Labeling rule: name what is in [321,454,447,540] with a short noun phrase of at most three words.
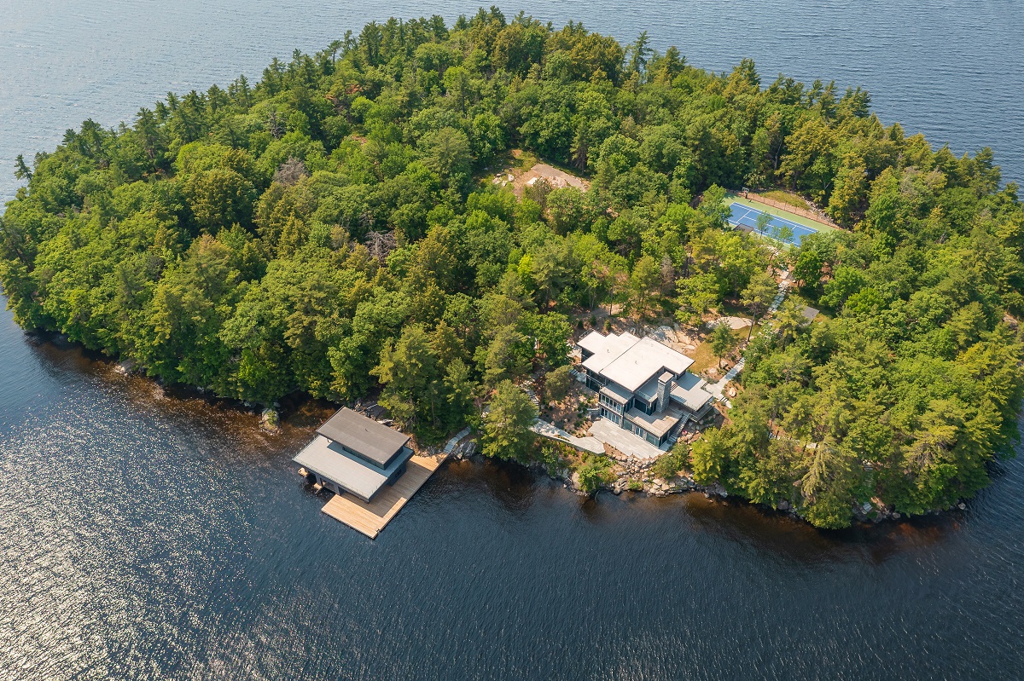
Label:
pier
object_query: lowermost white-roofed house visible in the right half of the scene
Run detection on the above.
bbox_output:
[573,331,725,447]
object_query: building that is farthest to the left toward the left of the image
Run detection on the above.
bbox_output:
[292,407,413,501]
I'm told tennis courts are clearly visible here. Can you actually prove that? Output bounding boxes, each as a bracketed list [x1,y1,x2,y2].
[705,192,835,256]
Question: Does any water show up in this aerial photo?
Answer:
Yes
